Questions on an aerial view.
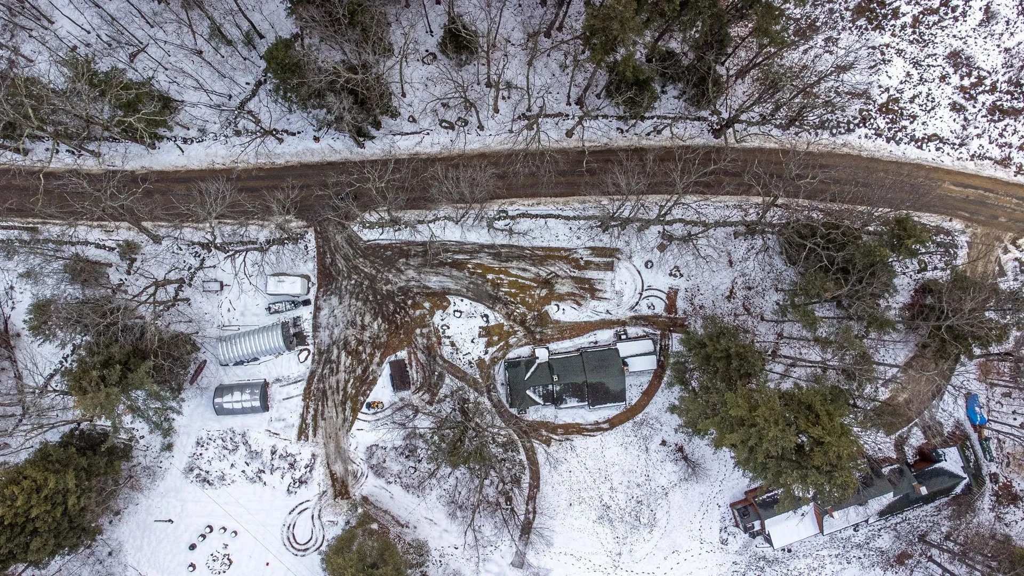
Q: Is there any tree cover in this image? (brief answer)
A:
Yes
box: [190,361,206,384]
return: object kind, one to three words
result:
boat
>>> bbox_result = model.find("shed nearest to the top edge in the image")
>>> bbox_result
[211,320,289,367]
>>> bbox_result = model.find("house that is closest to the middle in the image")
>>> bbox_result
[504,327,657,415]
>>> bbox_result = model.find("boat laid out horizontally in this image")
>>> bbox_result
[262,300,301,315]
